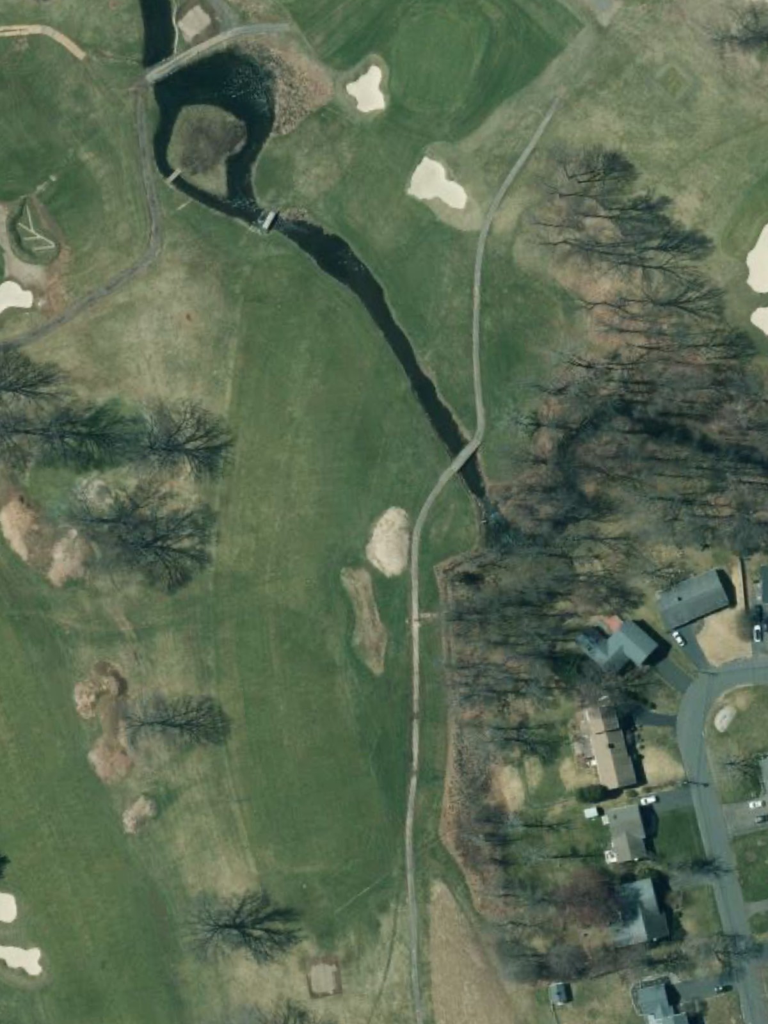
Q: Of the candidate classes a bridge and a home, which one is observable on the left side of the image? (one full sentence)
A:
Visible on the left side of the image is a bridge.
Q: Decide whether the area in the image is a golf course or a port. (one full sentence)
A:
What you see here is a golf course.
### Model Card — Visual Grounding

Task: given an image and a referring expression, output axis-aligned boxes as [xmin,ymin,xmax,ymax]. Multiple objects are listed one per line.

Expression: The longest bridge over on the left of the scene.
[141,52,186,85]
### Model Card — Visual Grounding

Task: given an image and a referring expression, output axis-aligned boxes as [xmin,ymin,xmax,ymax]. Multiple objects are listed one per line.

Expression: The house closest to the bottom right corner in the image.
[637,981,689,1024]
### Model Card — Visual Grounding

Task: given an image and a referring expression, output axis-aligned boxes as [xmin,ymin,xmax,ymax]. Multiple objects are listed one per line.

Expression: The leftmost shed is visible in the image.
[551,985,569,1004]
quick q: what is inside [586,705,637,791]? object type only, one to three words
house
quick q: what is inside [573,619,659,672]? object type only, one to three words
house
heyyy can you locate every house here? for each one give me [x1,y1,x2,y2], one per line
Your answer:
[758,757,768,800]
[606,805,645,864]
[658,569,731,630]
[760,565,768,604]
[618,879,676,946]
[573,619,659,672]
[586,705,637,791]
[637,981,689,1024]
